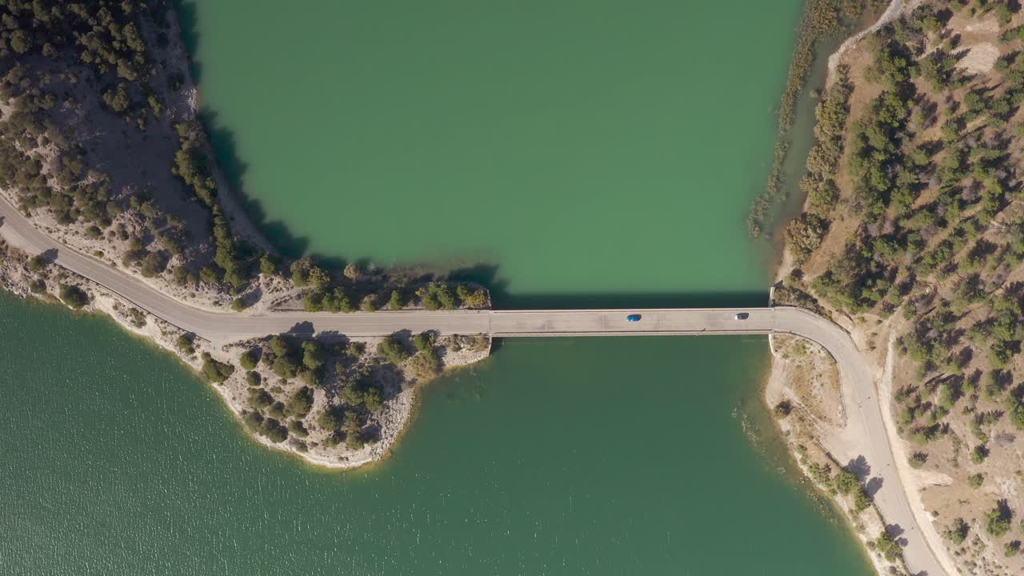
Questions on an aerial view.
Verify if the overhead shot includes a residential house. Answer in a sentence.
No, the frame has no residential house in it.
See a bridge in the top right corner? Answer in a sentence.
No, there is no bridge in the top right corner.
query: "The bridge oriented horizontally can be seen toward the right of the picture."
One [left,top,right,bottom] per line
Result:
[487,307,775,337]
